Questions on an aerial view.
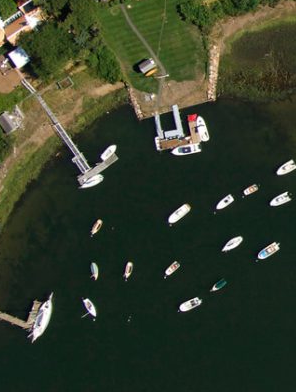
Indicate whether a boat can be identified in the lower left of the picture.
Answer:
Yes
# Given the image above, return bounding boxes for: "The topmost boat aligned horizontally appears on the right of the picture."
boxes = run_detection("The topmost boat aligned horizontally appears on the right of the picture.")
[172,143,201,155]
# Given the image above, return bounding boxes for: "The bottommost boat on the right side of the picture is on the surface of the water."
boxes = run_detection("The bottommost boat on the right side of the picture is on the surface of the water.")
[179,296,203,311]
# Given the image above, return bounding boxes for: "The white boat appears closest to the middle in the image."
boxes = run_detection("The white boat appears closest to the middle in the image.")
[169,202,192,224]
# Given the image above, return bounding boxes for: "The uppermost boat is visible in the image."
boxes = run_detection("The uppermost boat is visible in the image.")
[198,115,210,142]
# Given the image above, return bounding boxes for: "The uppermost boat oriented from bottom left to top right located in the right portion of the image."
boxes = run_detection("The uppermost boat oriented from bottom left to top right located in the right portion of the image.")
[277,158,296,174]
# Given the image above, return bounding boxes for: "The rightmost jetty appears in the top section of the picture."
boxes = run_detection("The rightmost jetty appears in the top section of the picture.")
[155,108,200,151]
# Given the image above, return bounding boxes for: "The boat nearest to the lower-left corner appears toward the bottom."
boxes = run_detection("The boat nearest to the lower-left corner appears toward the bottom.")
[30,293,52,342]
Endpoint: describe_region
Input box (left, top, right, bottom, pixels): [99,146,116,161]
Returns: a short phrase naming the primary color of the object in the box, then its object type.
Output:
white boat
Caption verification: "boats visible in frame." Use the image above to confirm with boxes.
[30,293,52,342]
[198,115,210,142]
[270,189,292,206]
[79,175,104,188]
[217,193,235,210]
[244,183,260,195]
[277,158,296,174]
[125,261,133,279]
[165,260,182,275]
[91,262,98,280]
[179,296,203,311]
[92,219,103,234]
[212,278,228,291]
[169,202,192,224]
[172,143,201,155]
[258,240,281,259]
[99,146,116,161]
[83,298,96,316]
[223,235,243,251]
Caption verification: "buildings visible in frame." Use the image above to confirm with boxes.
[139,58,158,78]
[0,1,37,43]
[0,111,21,134]
[8,47,33,69]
